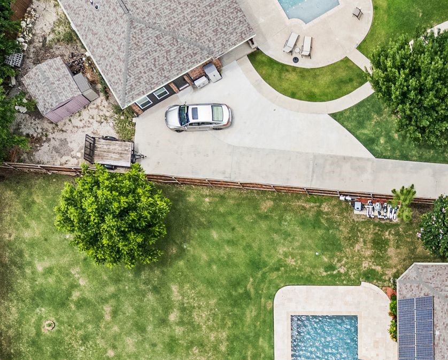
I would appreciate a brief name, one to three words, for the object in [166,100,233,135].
car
